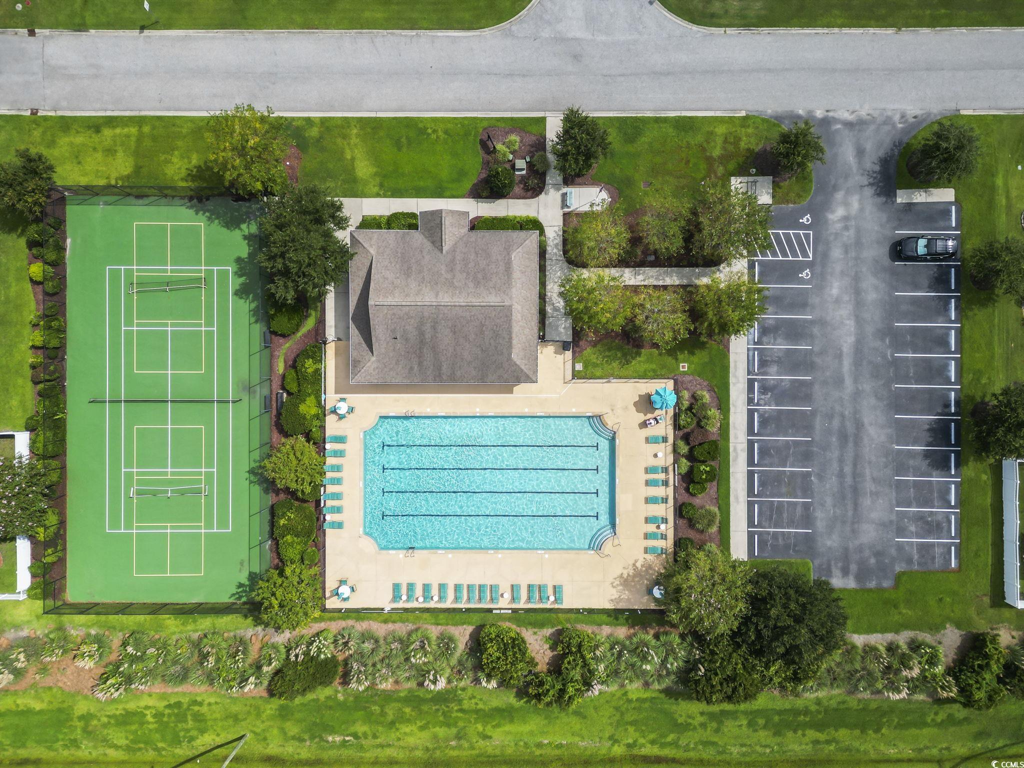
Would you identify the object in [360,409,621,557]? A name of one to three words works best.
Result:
swimming pool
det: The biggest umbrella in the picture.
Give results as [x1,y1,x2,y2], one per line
[652,387,679,412]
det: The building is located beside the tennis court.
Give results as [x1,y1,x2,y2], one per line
[349,209,538,384]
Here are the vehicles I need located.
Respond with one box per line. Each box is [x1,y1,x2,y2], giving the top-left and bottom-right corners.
[898,235,958,261]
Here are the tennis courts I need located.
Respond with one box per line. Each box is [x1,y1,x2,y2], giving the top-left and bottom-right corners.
[66,195,271,603]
